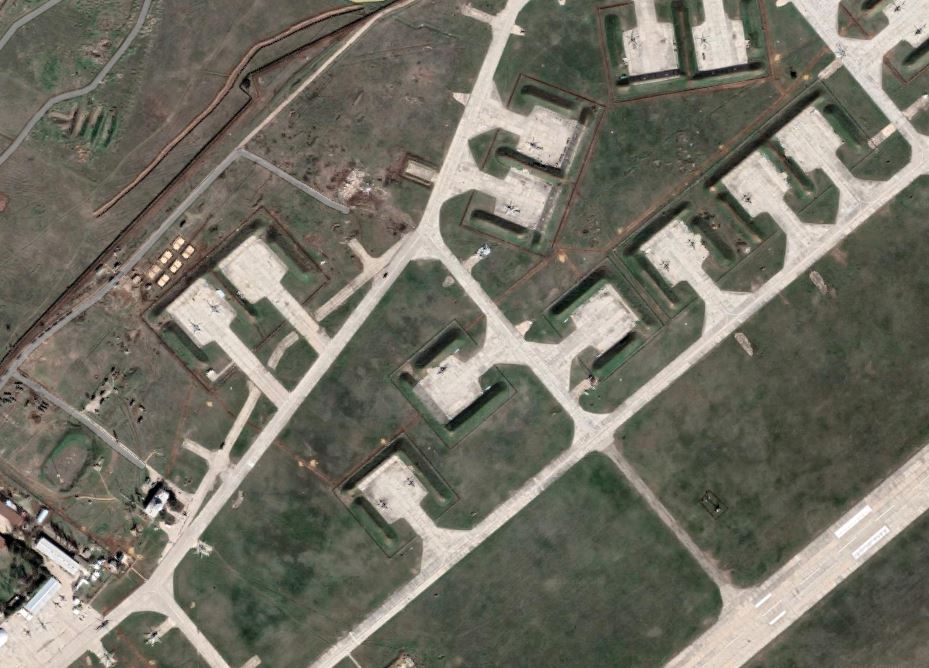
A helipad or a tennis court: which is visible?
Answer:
helipad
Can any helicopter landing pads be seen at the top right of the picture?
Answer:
Yes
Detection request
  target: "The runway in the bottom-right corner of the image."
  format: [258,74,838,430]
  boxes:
[662,446,929,668]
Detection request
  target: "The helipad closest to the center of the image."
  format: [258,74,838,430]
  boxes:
[421,320,531,418]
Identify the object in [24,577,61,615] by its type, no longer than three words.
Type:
hangar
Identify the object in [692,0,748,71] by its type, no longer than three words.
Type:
helipad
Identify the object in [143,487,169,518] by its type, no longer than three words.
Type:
building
